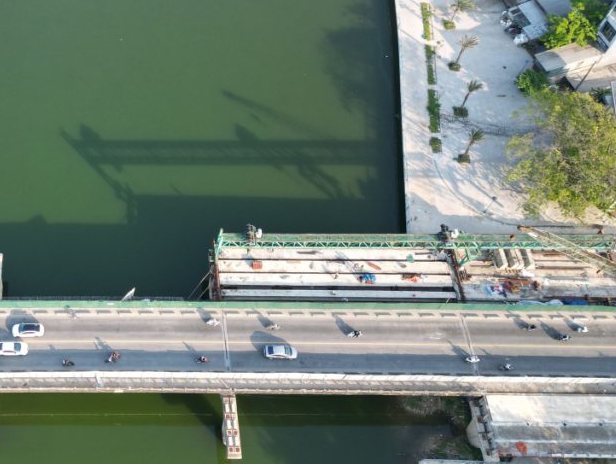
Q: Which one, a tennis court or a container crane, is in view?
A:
container crane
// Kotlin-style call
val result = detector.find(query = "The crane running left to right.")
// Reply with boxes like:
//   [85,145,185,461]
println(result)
[190,222,615,303]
